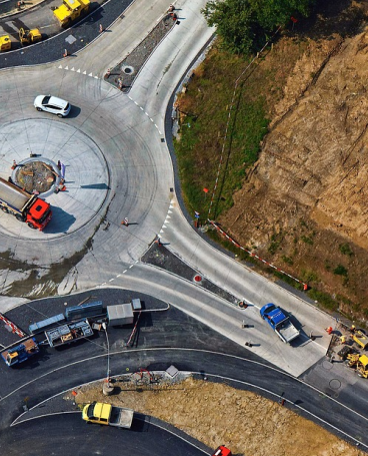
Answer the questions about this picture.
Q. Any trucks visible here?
Yes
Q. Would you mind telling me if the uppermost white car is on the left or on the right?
left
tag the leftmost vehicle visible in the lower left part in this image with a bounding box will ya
[0,334,42,363]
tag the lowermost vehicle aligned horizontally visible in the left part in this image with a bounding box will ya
[81,401,136,430]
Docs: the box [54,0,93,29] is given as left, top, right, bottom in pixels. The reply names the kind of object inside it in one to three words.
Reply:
work vehicle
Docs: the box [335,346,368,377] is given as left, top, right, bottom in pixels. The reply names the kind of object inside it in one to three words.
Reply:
work vehicle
